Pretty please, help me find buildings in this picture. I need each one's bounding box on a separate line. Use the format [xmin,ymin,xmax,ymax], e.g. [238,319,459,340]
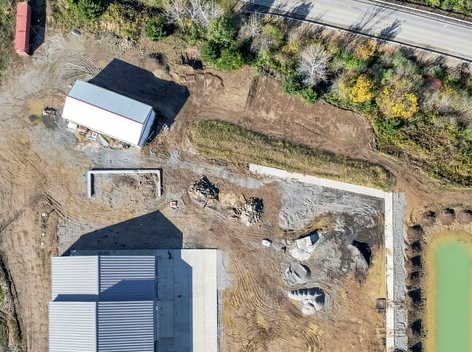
[50,255,160,352]
[64,80,155,148]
